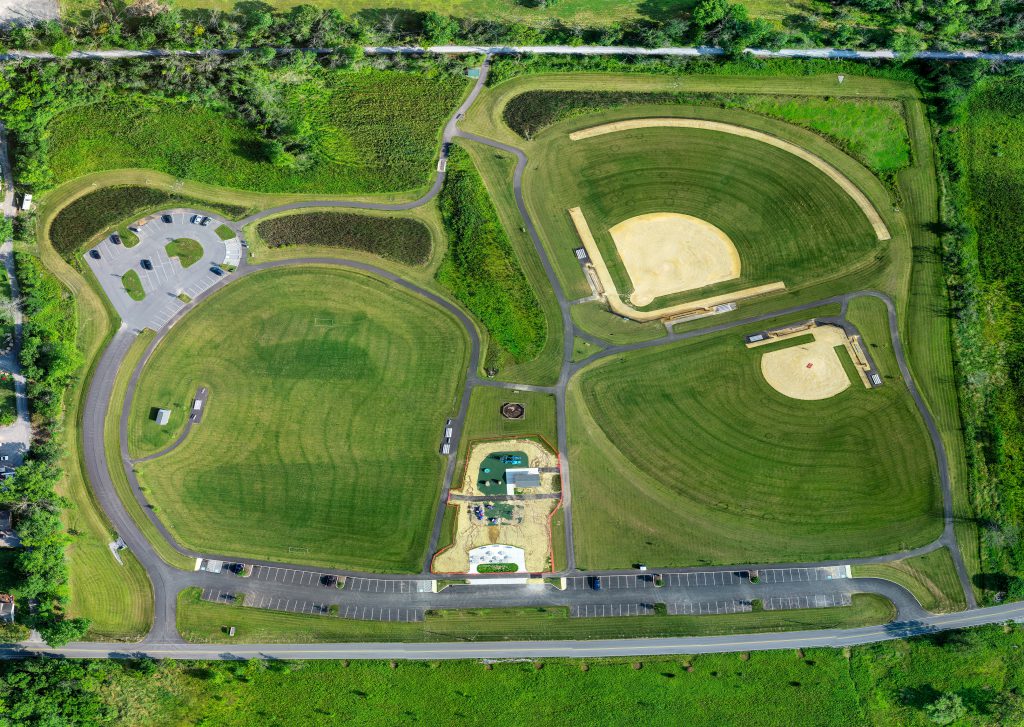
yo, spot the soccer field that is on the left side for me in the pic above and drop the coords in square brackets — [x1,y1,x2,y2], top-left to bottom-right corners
[128,266,471,570]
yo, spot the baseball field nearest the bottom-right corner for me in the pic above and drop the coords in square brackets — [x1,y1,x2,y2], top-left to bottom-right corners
[580,315,943,547]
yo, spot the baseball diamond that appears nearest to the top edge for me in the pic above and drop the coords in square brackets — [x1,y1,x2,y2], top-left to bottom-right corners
[545,115,897,325]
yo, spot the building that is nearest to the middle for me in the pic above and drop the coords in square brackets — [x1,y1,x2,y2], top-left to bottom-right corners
[513,472,541,488]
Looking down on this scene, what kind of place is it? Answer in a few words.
sports ground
